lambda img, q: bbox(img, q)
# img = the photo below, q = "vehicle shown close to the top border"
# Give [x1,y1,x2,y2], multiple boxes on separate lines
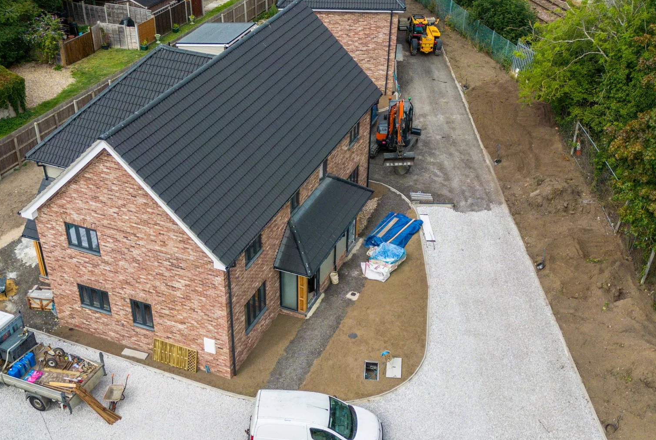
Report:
[407,12,444,56]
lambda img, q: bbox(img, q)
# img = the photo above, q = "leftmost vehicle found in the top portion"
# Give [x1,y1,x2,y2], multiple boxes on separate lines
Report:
[376,96,413,160]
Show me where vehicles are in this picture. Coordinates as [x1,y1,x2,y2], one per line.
[376,96,413,160]
[407,12,444,56]
[0,311,110,417]
[242,388,386,440]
